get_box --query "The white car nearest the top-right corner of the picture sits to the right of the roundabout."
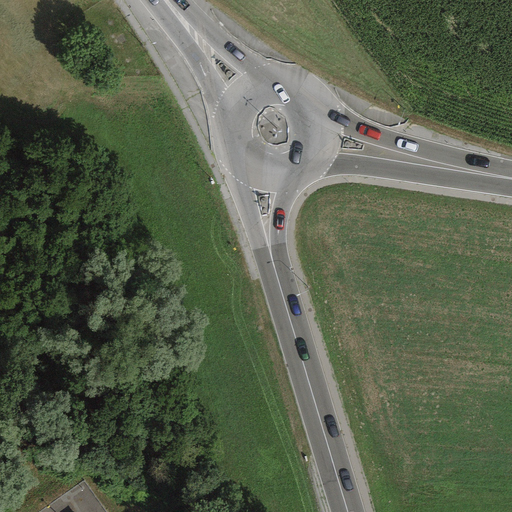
[396,138,420,152]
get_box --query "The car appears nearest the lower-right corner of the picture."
[340,468,353,492]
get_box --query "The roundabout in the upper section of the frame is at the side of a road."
[197,60,344,262]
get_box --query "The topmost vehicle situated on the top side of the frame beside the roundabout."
[224,41,246,60]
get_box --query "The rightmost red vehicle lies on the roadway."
[359,125,382,138]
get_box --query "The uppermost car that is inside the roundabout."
[274,83,291,104]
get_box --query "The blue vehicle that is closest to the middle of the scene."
[289,294,301,316]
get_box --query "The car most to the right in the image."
[466,154,490,167]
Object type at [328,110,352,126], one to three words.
car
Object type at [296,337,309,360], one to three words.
vehicle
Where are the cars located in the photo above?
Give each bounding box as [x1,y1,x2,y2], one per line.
[224,41,246,60]
[328,110,352,126]
[340,468,353,492]
[326,414,338,438]
[292,140,302,164]
[466,154,490,167]
[276,208,286,230]
[274,83,291,104]
[359,125,382,138]
[289,294,301,316]
[296,337,309,360]
[396,138,420,152]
